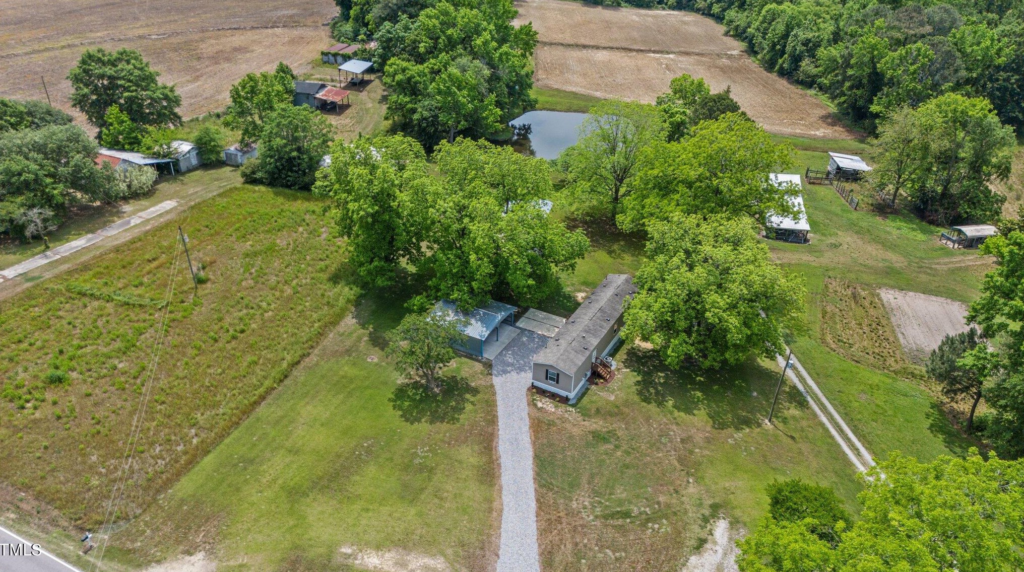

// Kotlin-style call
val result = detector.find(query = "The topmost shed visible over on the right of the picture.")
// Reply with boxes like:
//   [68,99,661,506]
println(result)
[833,152,874,180]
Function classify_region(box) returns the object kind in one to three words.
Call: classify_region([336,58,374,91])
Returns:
shed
